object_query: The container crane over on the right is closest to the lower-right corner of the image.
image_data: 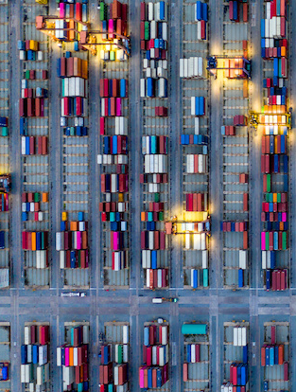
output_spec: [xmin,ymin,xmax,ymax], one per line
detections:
[164,217,214,238]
